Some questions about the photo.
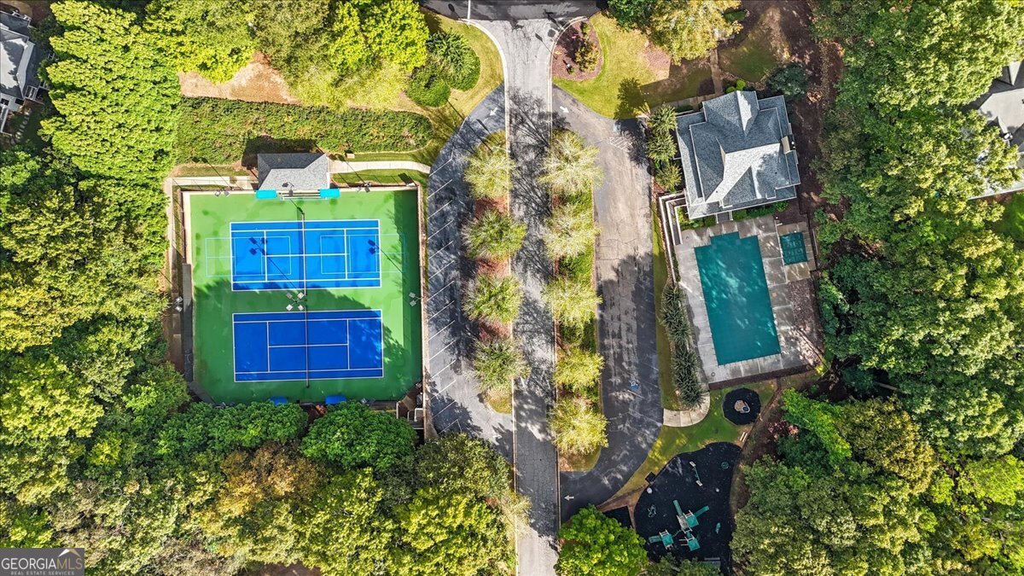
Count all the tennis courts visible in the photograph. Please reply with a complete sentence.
The picture shows 2 tennis courts.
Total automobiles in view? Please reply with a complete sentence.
The picture shows no automobiles.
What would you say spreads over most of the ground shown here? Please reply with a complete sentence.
For the most part, this view shows trees.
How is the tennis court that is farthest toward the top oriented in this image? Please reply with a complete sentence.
Seen from above, the tennis court that is farthest toward the top lies from left to right.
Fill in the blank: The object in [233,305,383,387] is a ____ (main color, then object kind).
blue tennis court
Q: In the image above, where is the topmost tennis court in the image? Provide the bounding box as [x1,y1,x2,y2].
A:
[206,214,406,296]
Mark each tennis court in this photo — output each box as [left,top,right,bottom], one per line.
[206,214,406,296]
[233,305,383,387]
